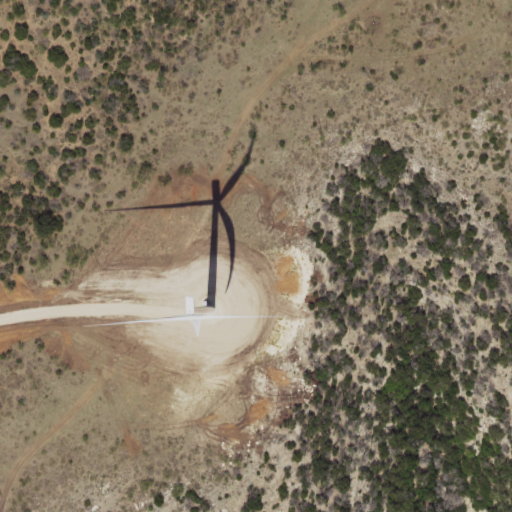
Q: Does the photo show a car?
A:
No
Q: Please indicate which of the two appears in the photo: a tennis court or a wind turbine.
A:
wind turbine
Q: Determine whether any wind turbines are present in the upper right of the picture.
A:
No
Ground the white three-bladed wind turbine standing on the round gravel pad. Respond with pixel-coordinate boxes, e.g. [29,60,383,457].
[80,298,240,336]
